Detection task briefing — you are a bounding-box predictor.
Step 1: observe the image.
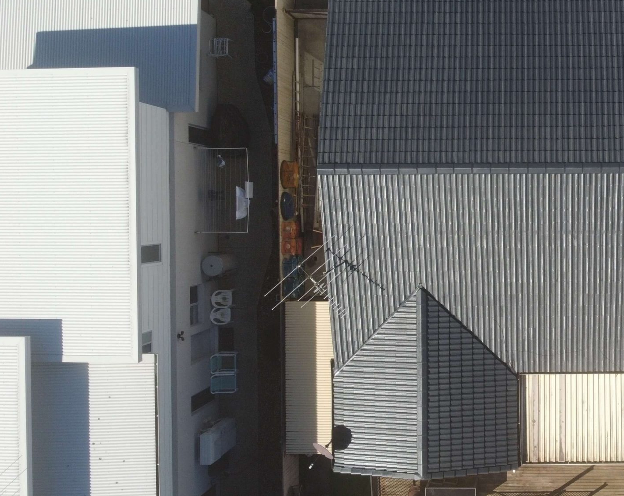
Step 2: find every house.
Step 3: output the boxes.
[0,0,217,496]
[314,0,624,480]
